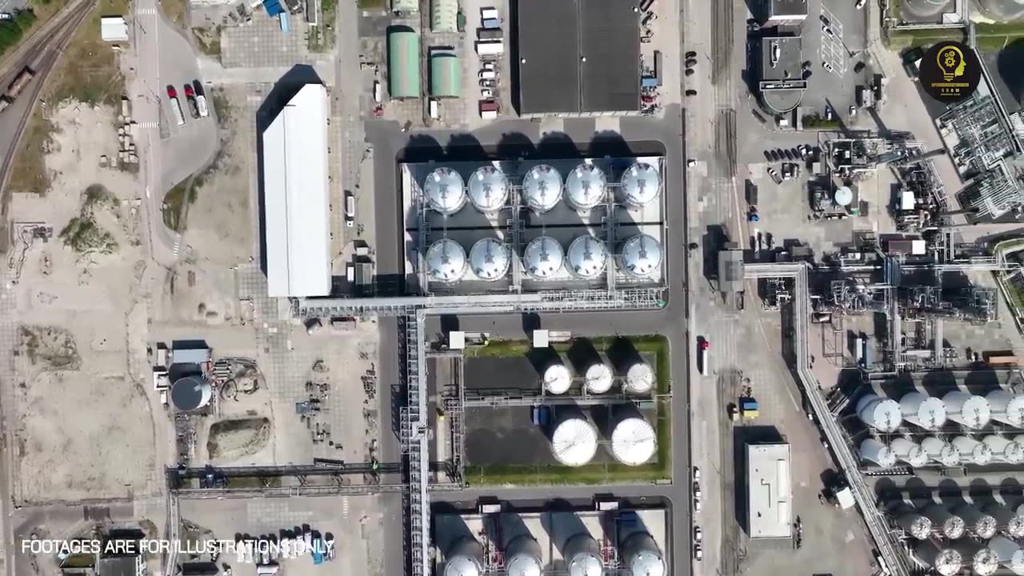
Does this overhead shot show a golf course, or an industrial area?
industrial area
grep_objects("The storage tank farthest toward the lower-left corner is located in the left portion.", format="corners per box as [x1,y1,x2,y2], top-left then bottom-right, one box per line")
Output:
[171,375,214,410]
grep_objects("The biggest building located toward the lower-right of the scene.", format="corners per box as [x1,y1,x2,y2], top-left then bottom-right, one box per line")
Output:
[743,440,791,538]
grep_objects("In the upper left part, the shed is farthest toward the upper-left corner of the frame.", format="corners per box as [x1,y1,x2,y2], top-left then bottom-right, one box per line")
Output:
[101,18,129,41]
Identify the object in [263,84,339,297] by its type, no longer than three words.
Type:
building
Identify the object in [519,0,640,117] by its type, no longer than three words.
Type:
building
